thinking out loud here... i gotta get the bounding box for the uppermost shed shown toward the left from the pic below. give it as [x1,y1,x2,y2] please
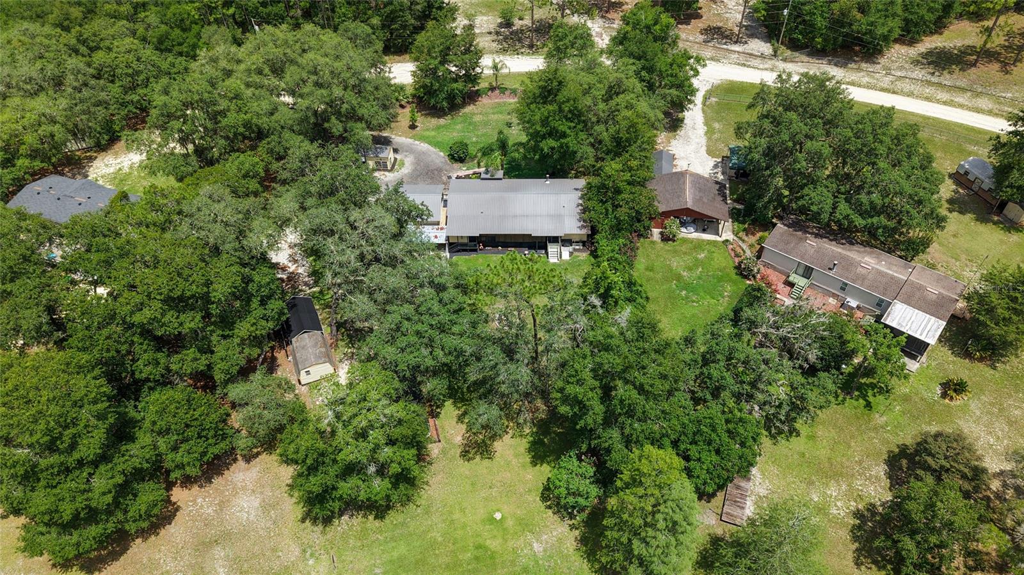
[366,143,396,171]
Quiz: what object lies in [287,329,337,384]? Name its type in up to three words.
shed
